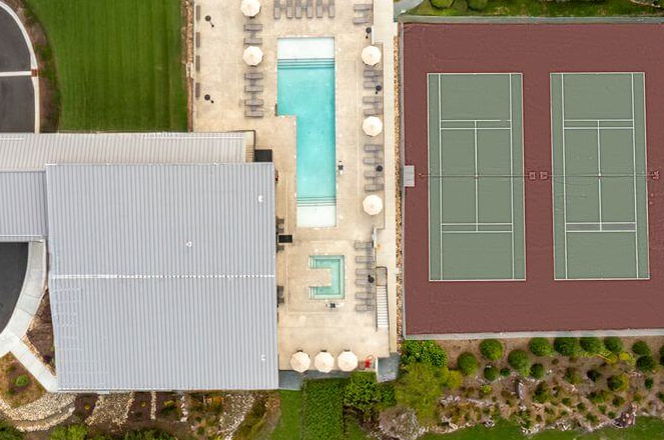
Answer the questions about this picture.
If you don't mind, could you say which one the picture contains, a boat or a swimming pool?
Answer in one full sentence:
Visible in the photo is a swimming pool.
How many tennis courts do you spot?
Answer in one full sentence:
The number of tennis courts here is 2.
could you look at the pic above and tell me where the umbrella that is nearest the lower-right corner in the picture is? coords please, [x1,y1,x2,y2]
[338,351,357,371]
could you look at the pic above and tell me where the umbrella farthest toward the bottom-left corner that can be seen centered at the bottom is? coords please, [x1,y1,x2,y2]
[291,352,310,372]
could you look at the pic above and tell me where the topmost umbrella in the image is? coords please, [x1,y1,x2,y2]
[241,0,261,17]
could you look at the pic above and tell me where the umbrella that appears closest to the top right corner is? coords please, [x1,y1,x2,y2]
[361,45,381,65]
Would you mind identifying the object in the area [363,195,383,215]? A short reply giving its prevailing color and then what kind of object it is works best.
white umbrella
